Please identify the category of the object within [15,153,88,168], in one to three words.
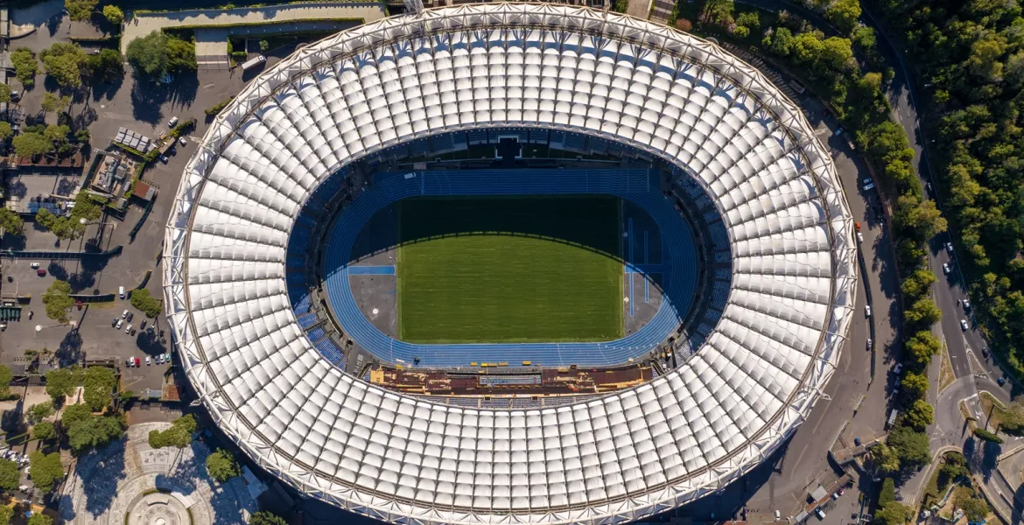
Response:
building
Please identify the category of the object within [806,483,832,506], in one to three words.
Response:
building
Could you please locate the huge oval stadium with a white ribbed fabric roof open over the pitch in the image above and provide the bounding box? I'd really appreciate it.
[163,2,856,525]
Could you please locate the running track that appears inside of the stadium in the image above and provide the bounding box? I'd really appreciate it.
[325,169,699,367]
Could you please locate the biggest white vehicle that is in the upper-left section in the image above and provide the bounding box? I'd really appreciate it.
[240,55,265,70]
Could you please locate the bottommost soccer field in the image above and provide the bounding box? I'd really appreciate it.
[398,195,622,342]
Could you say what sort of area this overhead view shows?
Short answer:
sports ground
